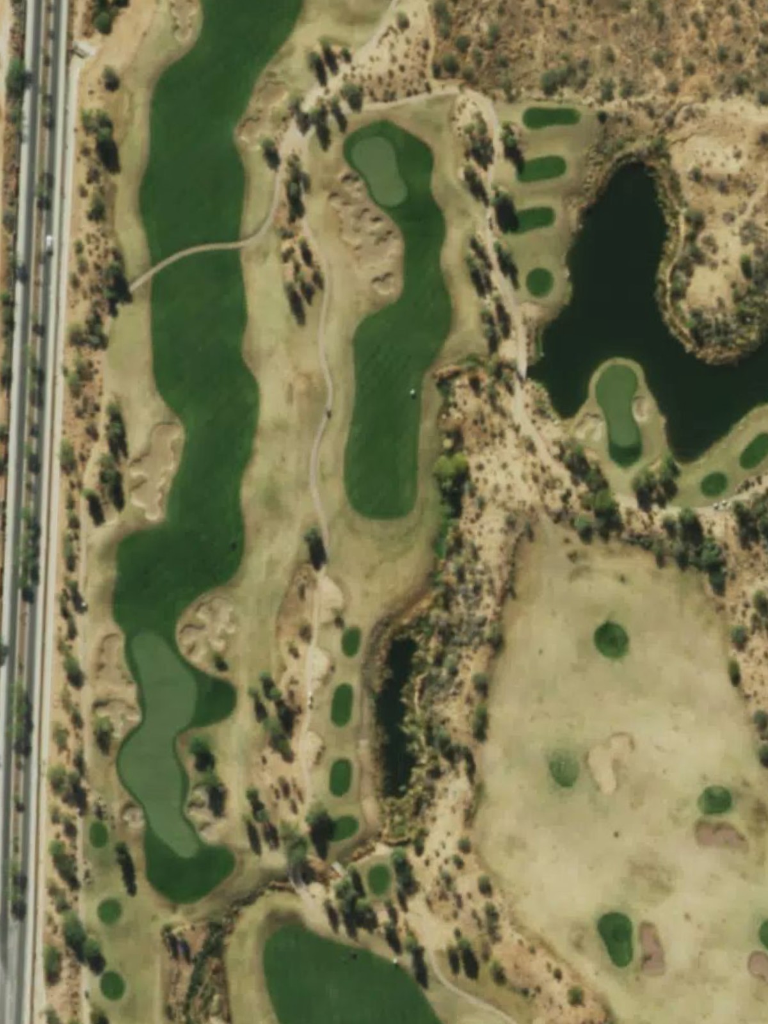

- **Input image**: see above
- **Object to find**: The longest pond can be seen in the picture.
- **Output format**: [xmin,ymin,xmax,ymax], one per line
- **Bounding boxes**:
[375,634,417,798]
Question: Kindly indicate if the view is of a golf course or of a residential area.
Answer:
golf course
